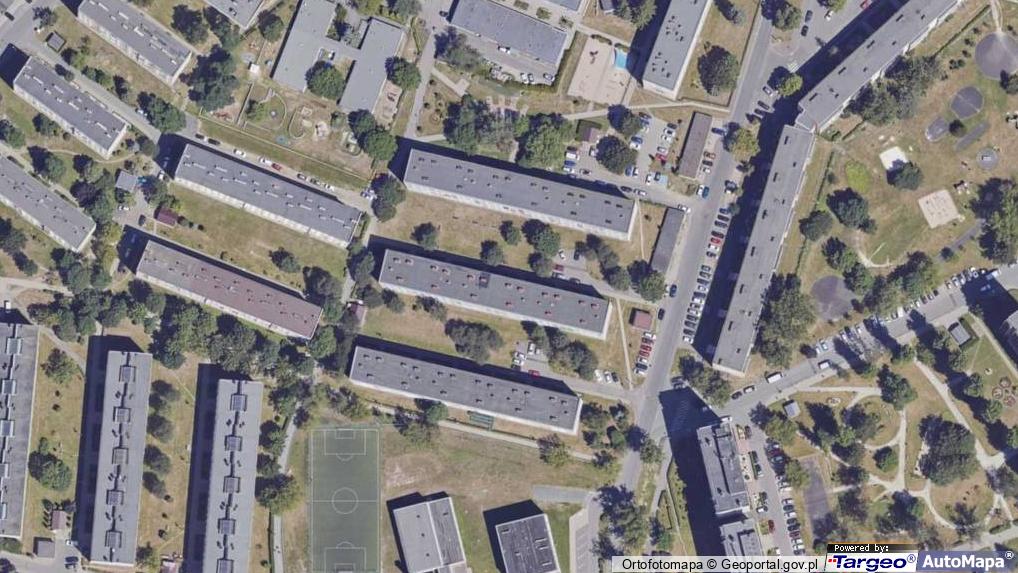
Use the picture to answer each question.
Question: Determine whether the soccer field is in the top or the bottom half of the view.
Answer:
bottom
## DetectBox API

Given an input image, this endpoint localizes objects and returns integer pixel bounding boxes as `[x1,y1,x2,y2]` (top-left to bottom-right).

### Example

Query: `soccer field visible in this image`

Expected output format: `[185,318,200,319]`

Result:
[306,423,381,573]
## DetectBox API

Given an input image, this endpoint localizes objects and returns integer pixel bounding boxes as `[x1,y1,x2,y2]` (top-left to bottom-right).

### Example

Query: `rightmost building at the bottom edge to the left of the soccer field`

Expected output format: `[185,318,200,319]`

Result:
[202,376,267,573]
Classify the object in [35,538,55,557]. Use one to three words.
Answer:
shed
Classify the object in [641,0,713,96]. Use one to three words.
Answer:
building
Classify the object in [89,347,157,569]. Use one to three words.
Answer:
building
